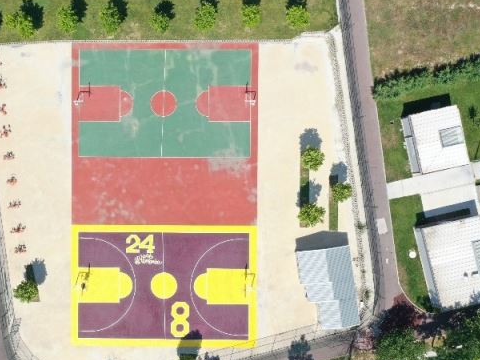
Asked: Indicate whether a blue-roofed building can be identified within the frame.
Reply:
No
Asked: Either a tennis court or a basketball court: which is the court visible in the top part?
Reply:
basketball court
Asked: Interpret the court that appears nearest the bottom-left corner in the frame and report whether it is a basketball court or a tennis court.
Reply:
basketball court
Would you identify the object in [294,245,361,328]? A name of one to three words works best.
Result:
shed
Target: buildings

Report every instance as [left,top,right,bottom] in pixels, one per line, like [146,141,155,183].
[402,105,470,174]
[294,245,361,328]
[412,214,480,309]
